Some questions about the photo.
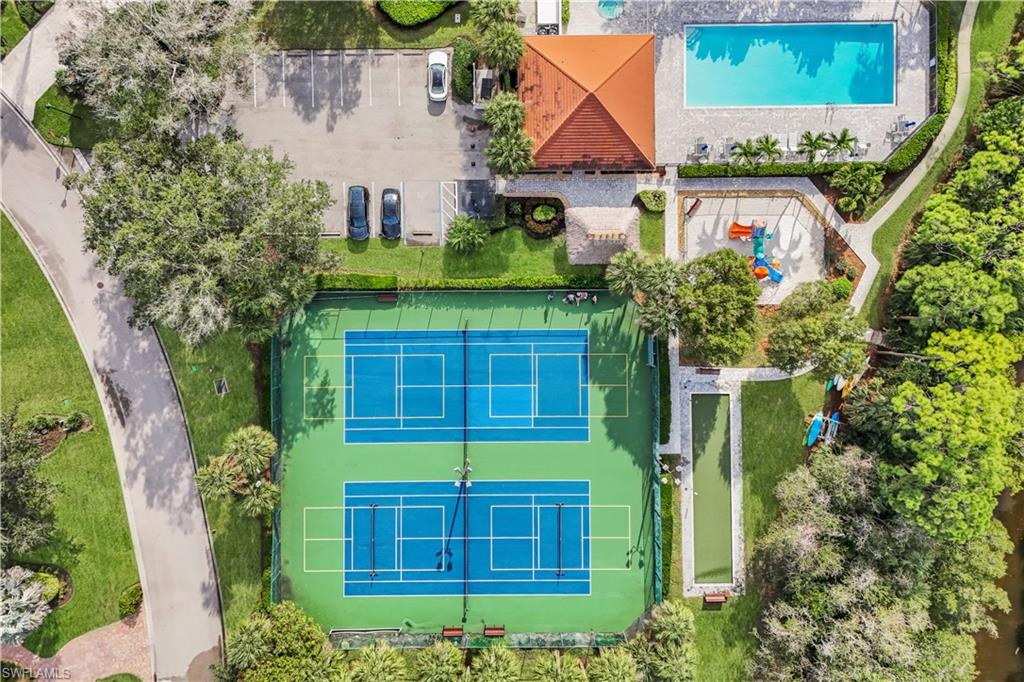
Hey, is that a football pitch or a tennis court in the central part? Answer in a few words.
tennis court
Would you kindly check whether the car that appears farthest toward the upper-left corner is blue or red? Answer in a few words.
blue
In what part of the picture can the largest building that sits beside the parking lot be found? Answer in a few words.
top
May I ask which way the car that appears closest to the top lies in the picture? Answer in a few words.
from top to bottom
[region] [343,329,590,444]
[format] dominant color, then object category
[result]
blue tennis court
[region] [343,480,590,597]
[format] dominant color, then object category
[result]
blue tennis court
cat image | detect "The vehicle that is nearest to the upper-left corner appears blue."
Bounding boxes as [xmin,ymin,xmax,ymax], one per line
[346,187,370,241]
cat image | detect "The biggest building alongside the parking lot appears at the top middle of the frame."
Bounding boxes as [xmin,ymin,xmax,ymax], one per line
[519,33,660,175]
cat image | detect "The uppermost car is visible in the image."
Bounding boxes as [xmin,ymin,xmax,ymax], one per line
[426,52,450,103]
